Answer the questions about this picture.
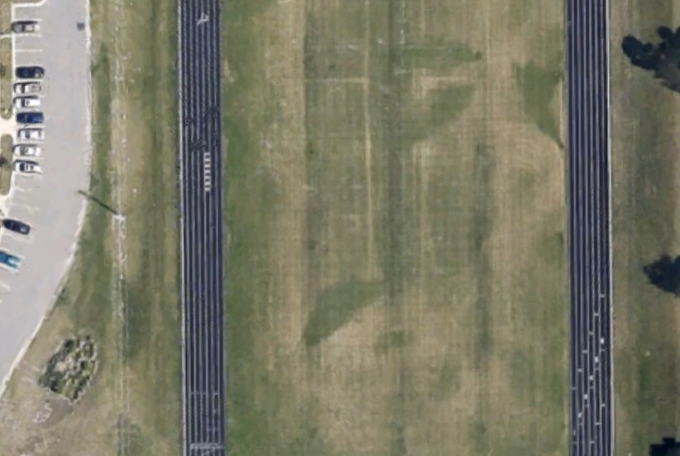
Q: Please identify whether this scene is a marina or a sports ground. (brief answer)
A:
sports ground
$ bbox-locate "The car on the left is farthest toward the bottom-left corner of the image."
[0,251,22,267]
